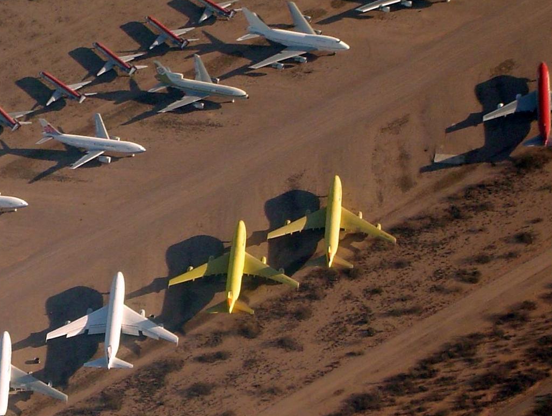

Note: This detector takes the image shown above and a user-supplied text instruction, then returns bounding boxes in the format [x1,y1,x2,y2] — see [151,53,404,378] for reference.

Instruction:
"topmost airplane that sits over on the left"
[193,0,244,24]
